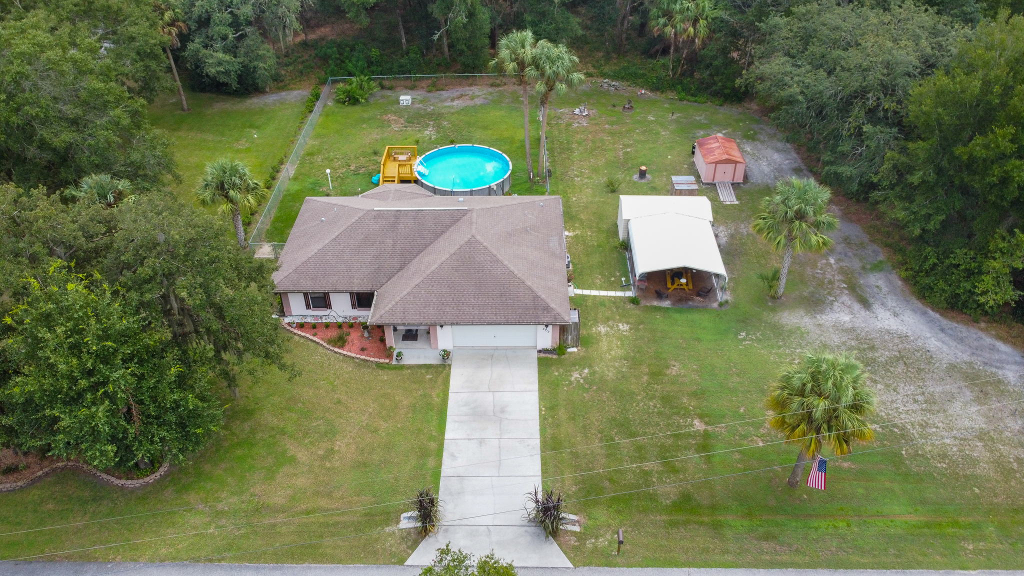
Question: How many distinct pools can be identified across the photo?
1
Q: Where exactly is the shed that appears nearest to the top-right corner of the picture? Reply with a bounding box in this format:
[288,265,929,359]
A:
[695,132,748,183]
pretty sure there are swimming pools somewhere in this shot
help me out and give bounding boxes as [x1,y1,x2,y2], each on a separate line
[415,144,512,195]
